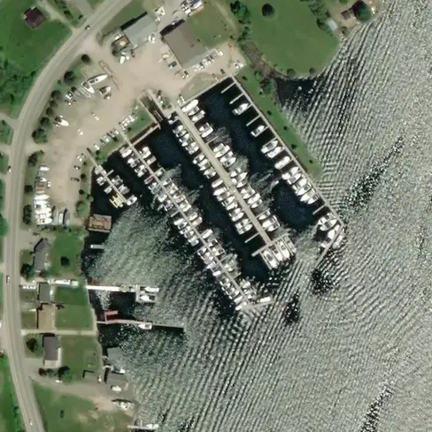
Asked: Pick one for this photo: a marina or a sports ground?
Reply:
marina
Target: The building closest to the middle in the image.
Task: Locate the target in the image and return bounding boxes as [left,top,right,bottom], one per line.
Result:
[88,211,113,232]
